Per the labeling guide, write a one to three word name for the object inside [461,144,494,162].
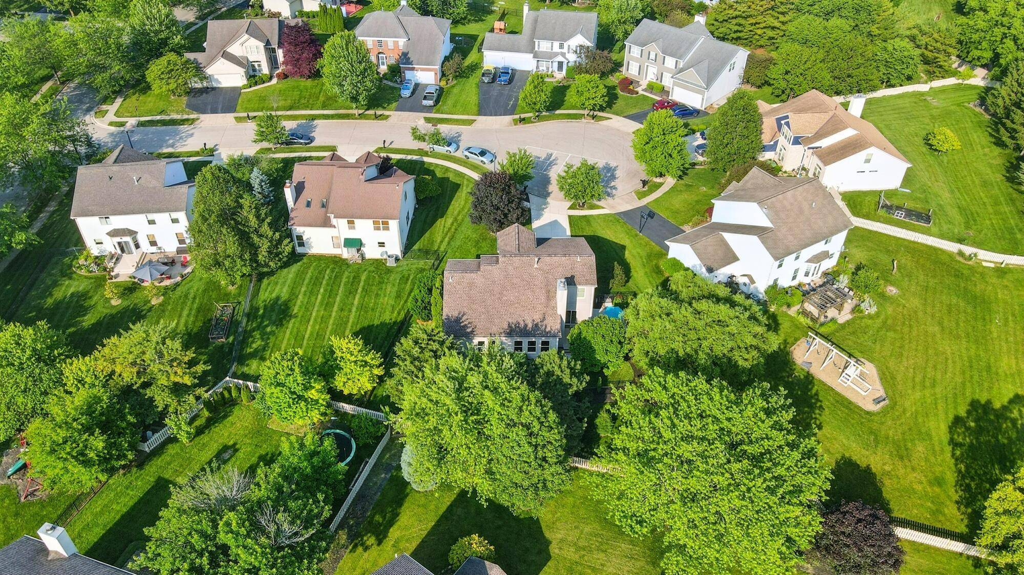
car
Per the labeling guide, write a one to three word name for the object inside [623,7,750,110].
house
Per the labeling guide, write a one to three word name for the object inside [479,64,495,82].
vehicle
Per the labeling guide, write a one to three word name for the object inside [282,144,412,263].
house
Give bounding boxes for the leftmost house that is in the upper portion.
[70,142,196,253]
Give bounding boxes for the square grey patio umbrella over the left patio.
[133,261,169,285]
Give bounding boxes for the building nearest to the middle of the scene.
[441,222,597,354]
